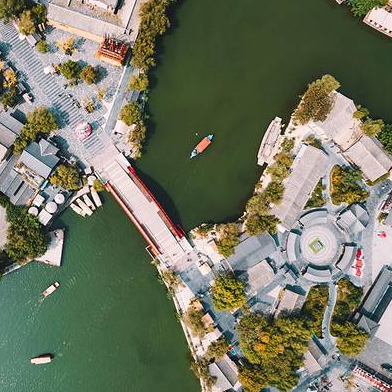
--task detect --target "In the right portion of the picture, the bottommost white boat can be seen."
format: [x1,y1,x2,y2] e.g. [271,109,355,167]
[257,118,282,165]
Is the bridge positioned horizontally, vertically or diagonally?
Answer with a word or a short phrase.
diagonally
